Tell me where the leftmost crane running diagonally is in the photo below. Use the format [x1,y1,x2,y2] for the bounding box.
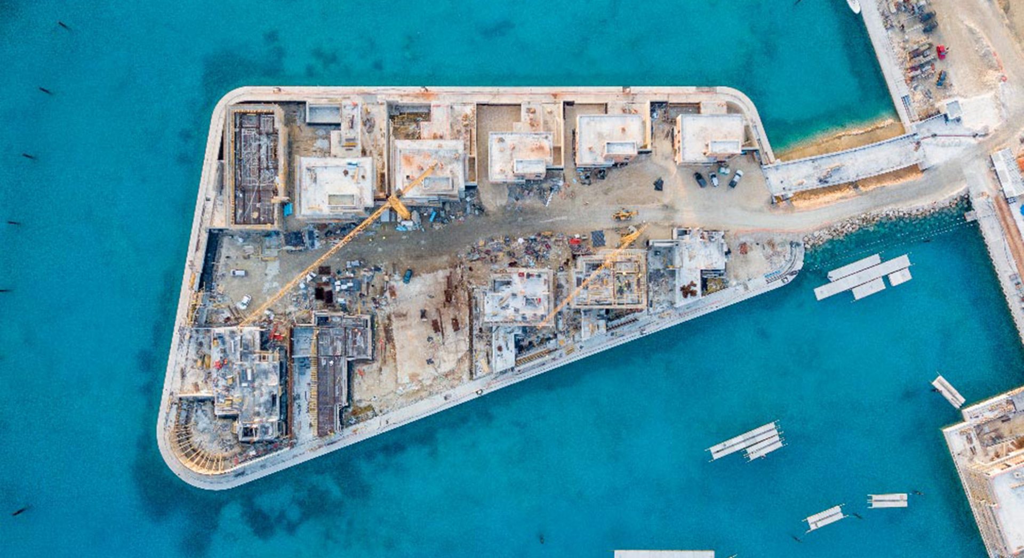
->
[238,161,437,329]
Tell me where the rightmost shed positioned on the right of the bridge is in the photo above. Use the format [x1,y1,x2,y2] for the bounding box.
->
[984,148,1024,199]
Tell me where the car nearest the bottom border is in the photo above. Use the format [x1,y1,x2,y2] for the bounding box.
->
[237,293,251,310]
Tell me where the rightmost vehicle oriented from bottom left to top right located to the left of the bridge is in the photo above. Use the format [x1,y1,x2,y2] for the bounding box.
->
[728,168,744,188]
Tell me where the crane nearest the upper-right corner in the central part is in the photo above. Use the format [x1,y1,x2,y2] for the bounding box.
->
[539,222,649,328]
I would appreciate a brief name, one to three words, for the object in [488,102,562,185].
house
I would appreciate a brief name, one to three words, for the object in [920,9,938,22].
vehicle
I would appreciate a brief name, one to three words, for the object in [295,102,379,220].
house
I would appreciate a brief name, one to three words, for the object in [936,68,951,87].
vehicle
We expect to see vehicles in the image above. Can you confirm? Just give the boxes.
[403,268,412,284]
[231,269,246,276]
[920,9,938,22]
[936,68,951,87]
[237,293,251,310]
[937,42,948,59]
[693,171,708,189]
[922,19,940,32]
[709,172,718,187]
[728,168,744,188]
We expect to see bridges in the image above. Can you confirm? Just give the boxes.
[762,131,931,208]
